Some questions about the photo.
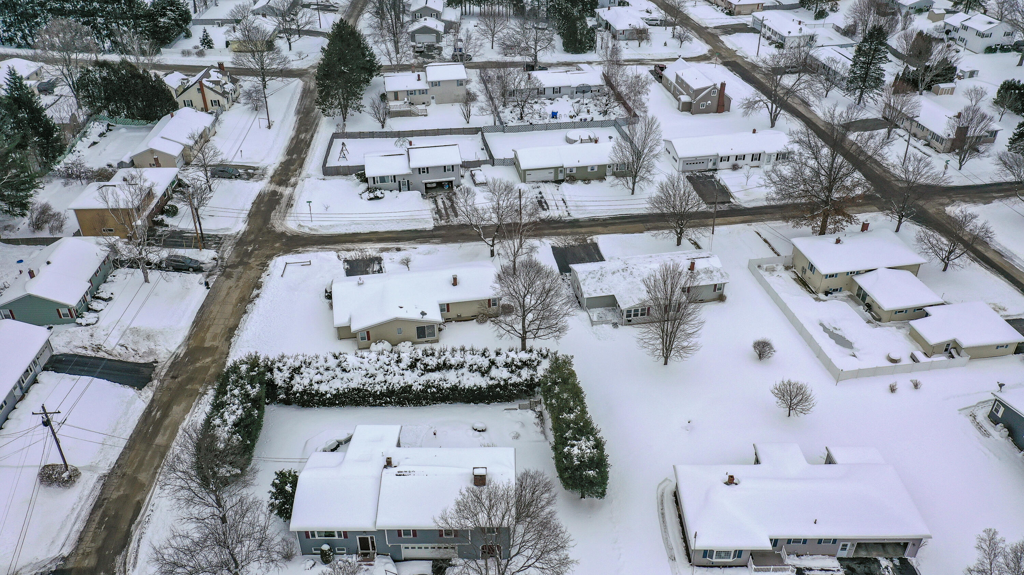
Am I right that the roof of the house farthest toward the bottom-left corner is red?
No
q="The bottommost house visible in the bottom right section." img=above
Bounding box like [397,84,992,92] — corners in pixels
[670,441,931,575]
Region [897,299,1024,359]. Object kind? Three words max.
building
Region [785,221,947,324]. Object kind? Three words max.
house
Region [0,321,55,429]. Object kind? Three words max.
house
